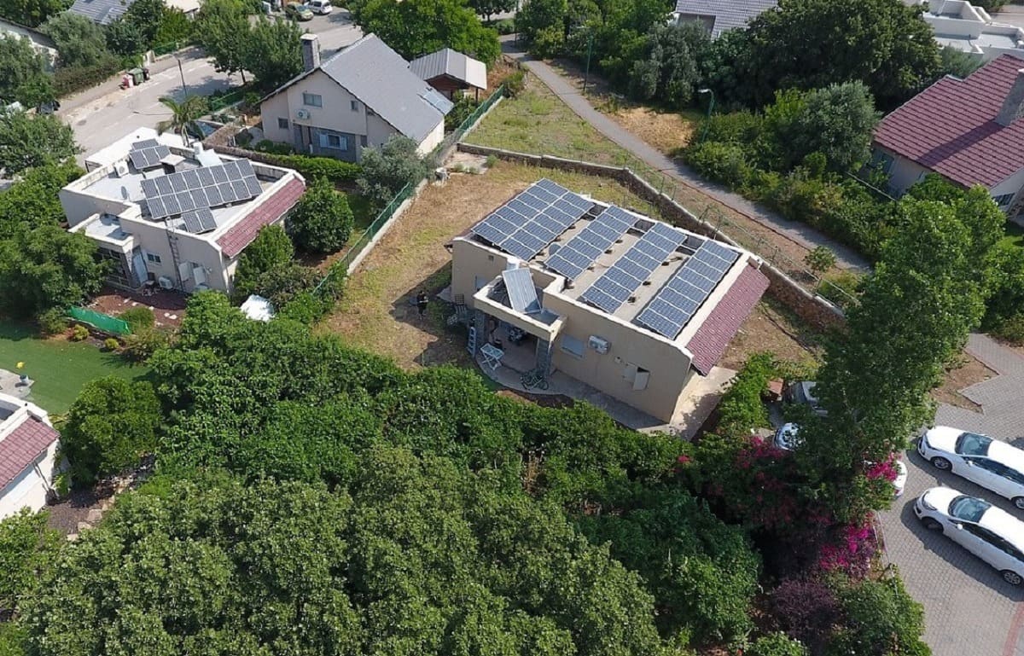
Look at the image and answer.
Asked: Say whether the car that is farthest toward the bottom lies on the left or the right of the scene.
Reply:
right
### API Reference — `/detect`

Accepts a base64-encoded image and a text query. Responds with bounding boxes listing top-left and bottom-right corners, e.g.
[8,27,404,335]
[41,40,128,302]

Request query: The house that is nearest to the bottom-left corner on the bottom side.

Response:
[0,370,78,513]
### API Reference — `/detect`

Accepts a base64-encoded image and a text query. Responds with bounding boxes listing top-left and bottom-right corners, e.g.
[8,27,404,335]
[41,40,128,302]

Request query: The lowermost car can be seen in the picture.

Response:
[911,485,1024,588]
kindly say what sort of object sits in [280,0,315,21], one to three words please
car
